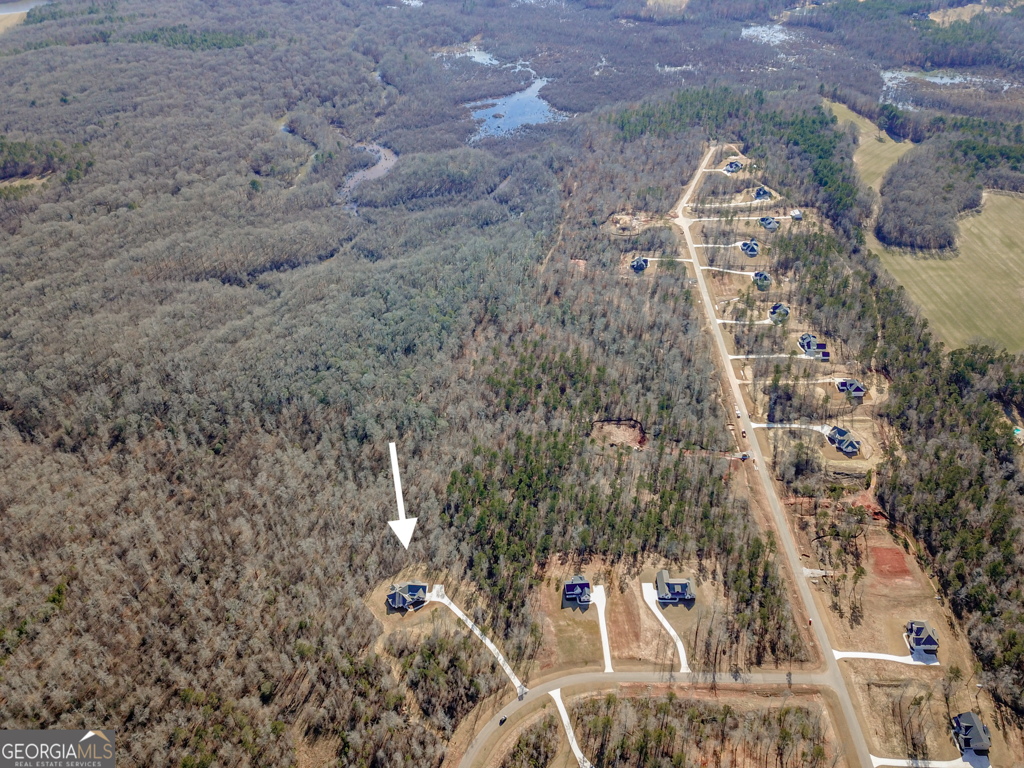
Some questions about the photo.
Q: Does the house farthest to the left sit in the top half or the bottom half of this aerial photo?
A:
bottom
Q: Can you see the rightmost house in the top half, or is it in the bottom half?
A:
bottom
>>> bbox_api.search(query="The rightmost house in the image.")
[947,699,992,751]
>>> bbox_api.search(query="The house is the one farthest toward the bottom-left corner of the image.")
[387,575,428,610]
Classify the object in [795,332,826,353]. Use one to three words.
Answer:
house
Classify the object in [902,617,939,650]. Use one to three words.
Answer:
house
